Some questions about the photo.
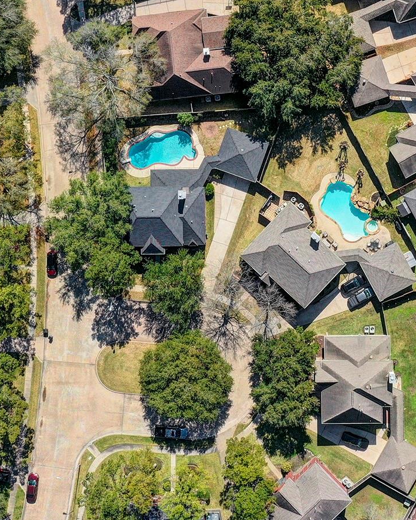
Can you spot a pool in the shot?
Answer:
Yes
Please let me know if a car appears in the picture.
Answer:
Yes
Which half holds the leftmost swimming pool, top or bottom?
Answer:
top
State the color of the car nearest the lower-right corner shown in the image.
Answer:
black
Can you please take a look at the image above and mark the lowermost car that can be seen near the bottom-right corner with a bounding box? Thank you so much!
[338,430,371,450]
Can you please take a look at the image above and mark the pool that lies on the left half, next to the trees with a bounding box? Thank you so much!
[127,128,199,171]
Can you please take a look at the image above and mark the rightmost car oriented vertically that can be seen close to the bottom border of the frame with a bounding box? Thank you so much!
[24,470,40,504]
